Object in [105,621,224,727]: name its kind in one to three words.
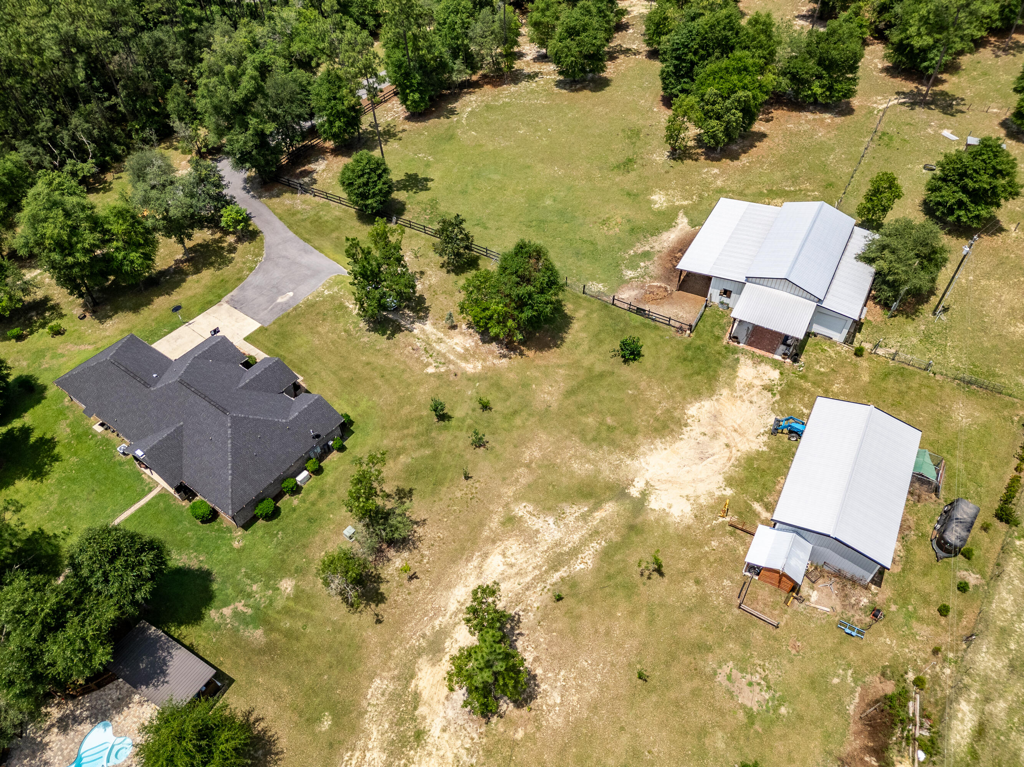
building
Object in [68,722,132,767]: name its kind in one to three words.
swimming pool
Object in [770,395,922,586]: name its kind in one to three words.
barn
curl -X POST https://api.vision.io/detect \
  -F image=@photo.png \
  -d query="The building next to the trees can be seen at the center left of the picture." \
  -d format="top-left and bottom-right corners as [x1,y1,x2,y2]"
[53,332,344,529]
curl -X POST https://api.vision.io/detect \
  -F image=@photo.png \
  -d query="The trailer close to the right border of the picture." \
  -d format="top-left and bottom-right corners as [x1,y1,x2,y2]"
[932,491,989,564]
